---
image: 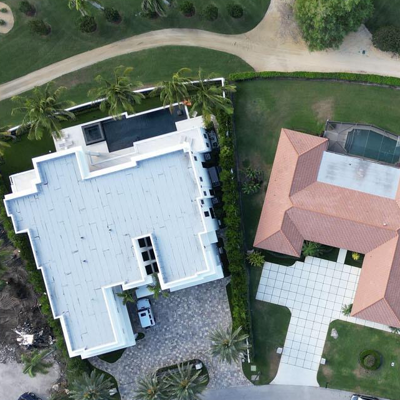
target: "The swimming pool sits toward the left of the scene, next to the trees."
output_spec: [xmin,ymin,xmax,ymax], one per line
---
[79,105,187,152]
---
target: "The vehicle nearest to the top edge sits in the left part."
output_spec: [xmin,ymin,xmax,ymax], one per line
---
[137,297,156,329]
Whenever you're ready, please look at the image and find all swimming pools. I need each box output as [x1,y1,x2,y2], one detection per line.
[343,127,400,165]
[79,105,187,152]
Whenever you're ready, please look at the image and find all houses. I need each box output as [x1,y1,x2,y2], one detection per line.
[4,127,230,358]
[252,128,400,328]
